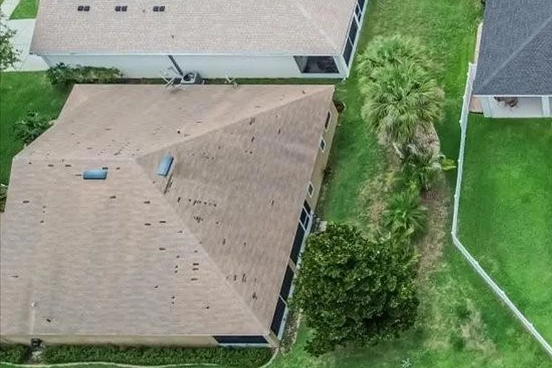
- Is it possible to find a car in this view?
No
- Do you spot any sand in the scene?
No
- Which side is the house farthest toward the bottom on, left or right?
left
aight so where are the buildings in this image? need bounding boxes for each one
[0,85,333,346]
[466,0,552,119]
[28,0,367,79]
